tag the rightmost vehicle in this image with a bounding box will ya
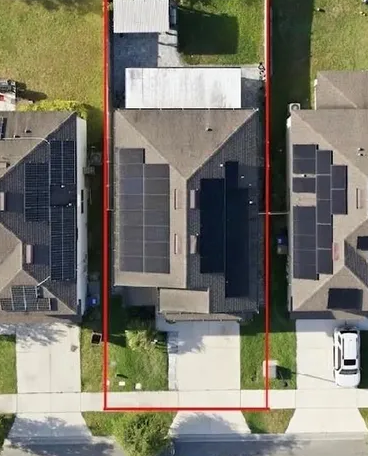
[332,326,363,389]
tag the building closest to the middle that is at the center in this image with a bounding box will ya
[112,108,260,320]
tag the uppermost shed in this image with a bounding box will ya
[113,0,170,37]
